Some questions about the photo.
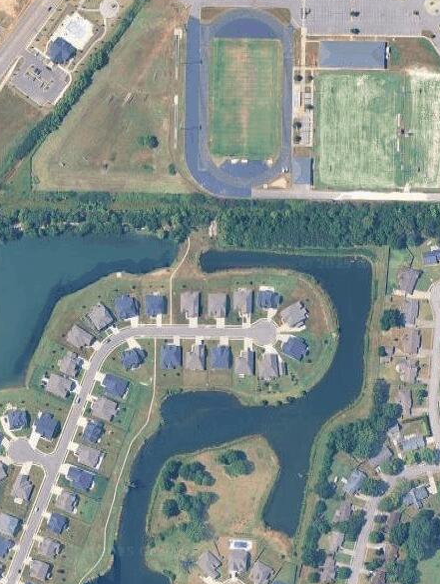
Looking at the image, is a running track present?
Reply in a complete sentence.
Yes, there's a running track down there.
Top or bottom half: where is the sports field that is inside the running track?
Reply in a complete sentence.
The sports field that is inside the running track sits in the top half of the picture.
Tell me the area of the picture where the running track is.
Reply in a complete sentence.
The running track is in the top part of the image.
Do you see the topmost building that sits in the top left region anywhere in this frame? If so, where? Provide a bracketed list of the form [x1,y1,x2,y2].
[47,35,78,63]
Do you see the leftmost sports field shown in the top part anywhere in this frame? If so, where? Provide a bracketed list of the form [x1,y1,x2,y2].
[210,38,283,156]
